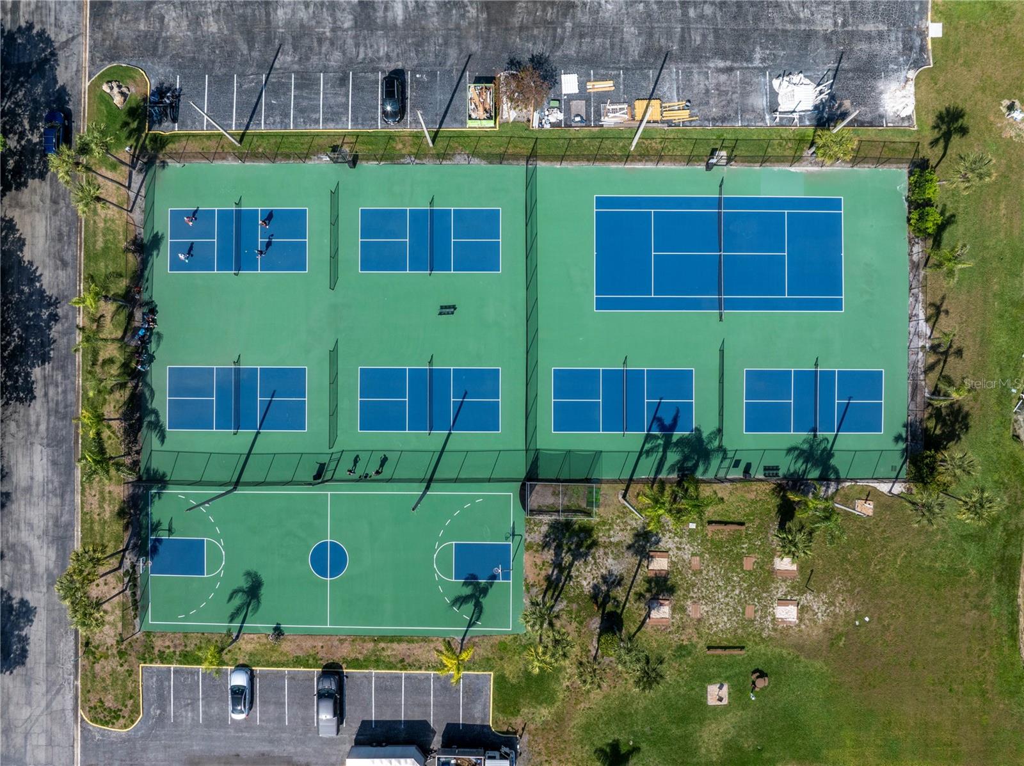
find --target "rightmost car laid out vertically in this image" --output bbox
[382,78,406,127]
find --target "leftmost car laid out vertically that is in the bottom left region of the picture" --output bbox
[228,668,253,720]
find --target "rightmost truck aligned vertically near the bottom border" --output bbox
[314,672,341,736]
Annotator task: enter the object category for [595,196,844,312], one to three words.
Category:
tennis court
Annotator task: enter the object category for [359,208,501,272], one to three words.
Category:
sports court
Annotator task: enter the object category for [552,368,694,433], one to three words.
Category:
sports court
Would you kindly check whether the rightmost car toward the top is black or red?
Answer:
black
